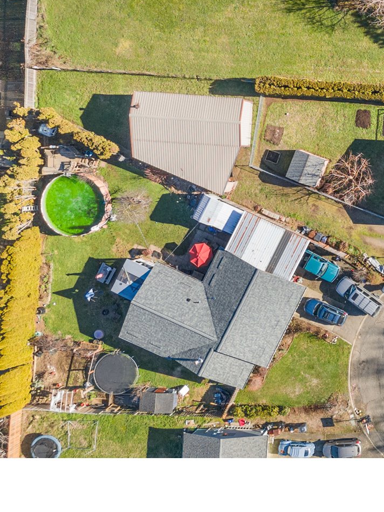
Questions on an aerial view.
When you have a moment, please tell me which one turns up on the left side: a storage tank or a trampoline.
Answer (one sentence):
The feature located on the left side is a trampoline.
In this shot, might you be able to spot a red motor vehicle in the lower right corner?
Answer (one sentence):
No, no red motor vehicle appears in the lower right corner.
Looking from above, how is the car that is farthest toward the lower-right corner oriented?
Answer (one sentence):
The car that is farthest toward the lower-right corner has been laid out from side to side relative to the frame.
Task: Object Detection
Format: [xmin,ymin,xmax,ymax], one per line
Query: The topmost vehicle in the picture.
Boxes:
[298,248,343,284]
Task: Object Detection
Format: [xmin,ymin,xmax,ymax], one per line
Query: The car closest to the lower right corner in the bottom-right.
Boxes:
[319,437,365,460]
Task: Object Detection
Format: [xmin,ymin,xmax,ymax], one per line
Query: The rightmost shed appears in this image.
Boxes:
[285,149,331,187]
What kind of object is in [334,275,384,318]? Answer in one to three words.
car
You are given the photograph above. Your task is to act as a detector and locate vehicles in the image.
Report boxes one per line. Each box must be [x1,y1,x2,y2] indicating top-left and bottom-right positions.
[298,248,343,284]
[303,297,350,325]
[277,437,317,460]
[334,275,384,318]
[319,437,365,460]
